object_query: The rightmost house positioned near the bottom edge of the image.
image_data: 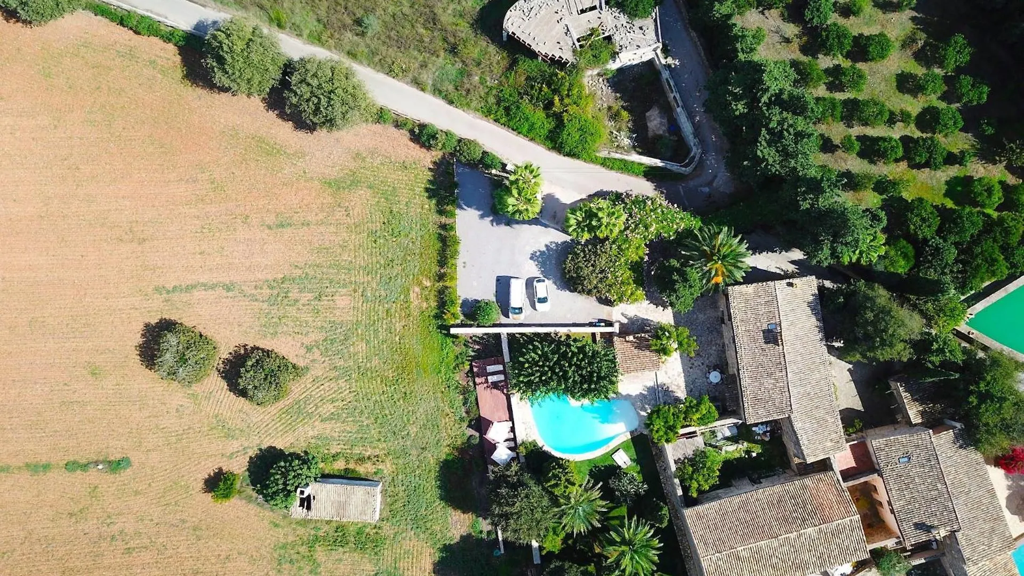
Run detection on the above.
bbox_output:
[867,421,1024,576]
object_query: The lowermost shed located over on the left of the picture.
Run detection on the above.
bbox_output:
[291,477,384,523]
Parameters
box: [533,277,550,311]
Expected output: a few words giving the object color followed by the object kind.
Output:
white car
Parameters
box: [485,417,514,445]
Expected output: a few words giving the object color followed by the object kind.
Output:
white umbrella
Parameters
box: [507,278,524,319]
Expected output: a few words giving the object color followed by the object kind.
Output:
white vehicle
